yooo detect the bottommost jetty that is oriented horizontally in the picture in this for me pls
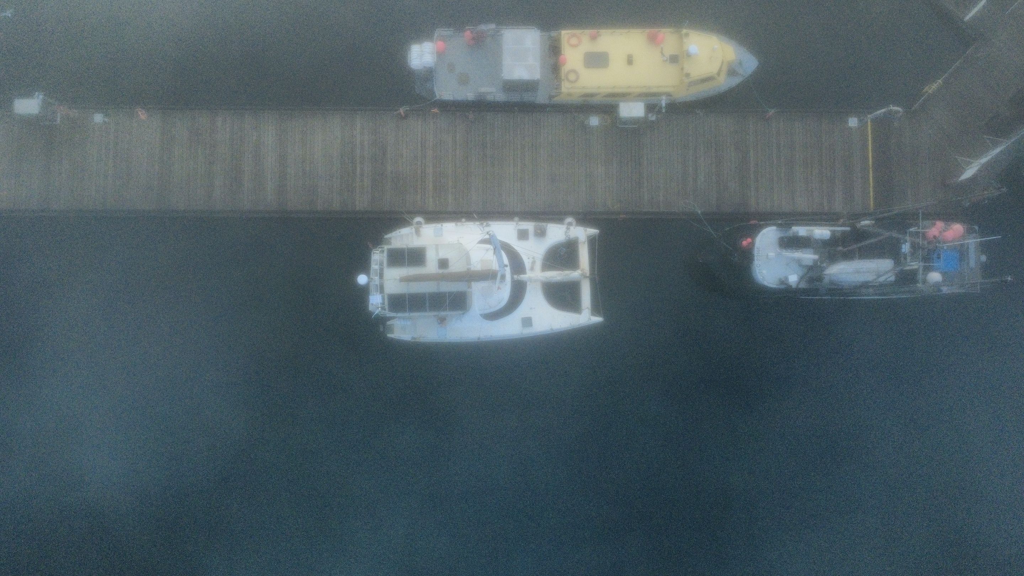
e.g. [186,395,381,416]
[0,105,967,222]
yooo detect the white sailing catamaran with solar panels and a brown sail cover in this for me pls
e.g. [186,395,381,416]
[357,221,603,342]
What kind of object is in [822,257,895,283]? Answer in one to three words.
boat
